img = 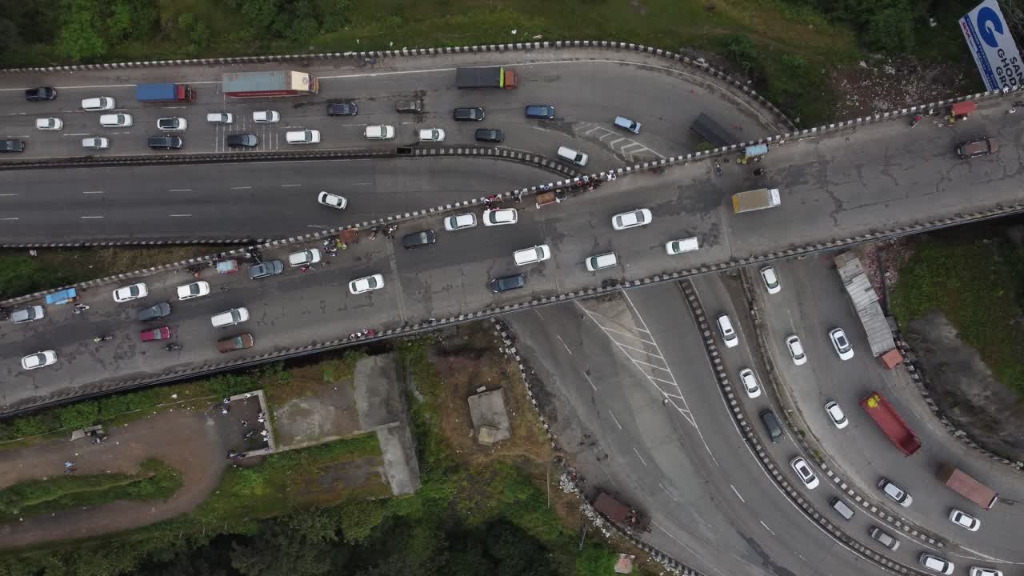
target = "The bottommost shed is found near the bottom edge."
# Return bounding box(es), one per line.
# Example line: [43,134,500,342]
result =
[613,551,634,573]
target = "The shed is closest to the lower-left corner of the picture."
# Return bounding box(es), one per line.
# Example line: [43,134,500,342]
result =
[469,388,511,442]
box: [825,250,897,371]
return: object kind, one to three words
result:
truck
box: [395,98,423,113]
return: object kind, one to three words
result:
car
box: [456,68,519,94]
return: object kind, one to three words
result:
truck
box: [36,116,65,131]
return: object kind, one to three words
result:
car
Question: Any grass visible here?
Yes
